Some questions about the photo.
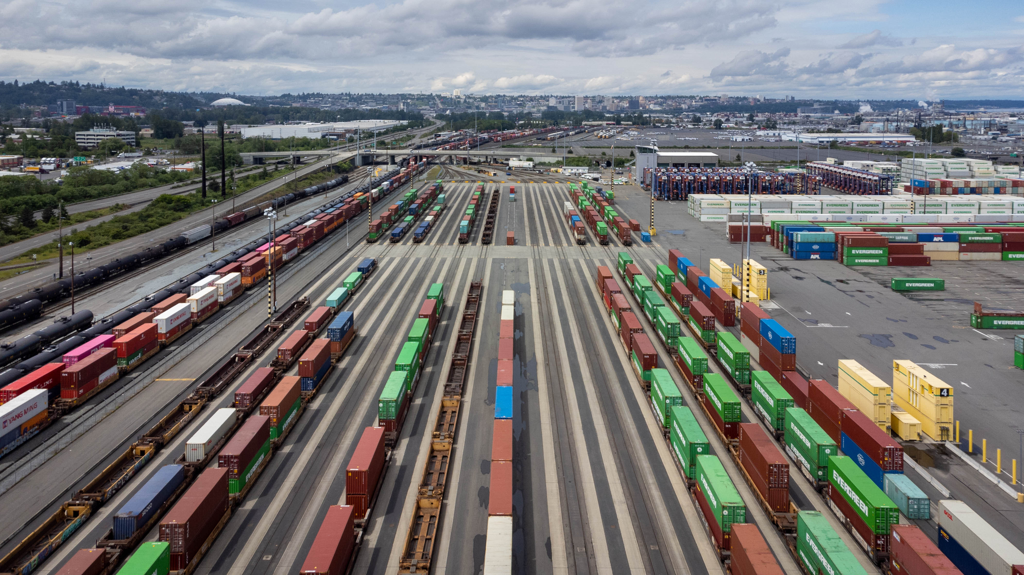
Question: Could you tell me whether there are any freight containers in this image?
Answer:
Yes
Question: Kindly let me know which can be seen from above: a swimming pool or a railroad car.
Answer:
railroad car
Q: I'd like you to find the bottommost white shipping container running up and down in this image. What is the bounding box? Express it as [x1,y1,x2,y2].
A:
[484,517,512,575]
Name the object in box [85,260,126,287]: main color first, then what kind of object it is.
black rail car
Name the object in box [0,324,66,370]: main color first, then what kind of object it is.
black rail car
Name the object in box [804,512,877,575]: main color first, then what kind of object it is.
green shipping container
